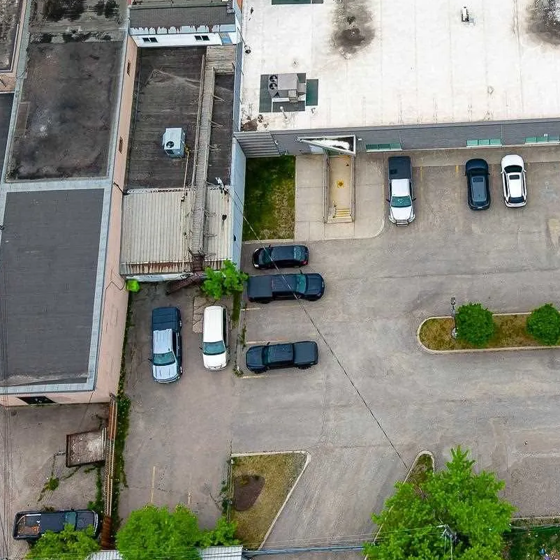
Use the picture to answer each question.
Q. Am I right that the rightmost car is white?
Yes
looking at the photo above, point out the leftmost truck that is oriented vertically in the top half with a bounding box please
[386,157,415,227]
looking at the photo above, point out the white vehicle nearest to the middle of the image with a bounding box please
[198,306,229,373]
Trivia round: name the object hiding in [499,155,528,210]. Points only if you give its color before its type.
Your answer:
white car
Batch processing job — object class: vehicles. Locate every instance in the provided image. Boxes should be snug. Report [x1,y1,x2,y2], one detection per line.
[463,159,492,214]
[148,306,183,384]
[12,507,100,541]
[253,243,310,272]
[245,341,320,372]
[247,272,325,305]
[386,157,415,227]
[499,155,528,210]
[198,306,229,373]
